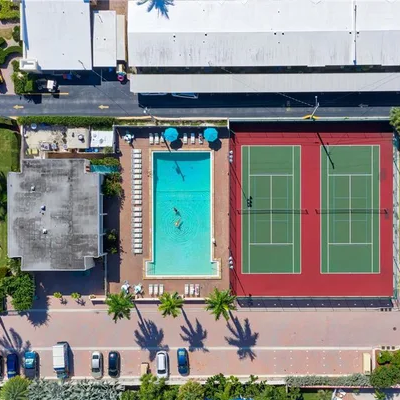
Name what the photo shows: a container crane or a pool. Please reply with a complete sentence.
Looking from above, you can make out a pool.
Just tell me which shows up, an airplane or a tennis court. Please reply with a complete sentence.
Looking from above, you can make out a tennis court.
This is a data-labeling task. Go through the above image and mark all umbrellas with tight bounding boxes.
[164,127,179,142]
[204,127,219,142]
